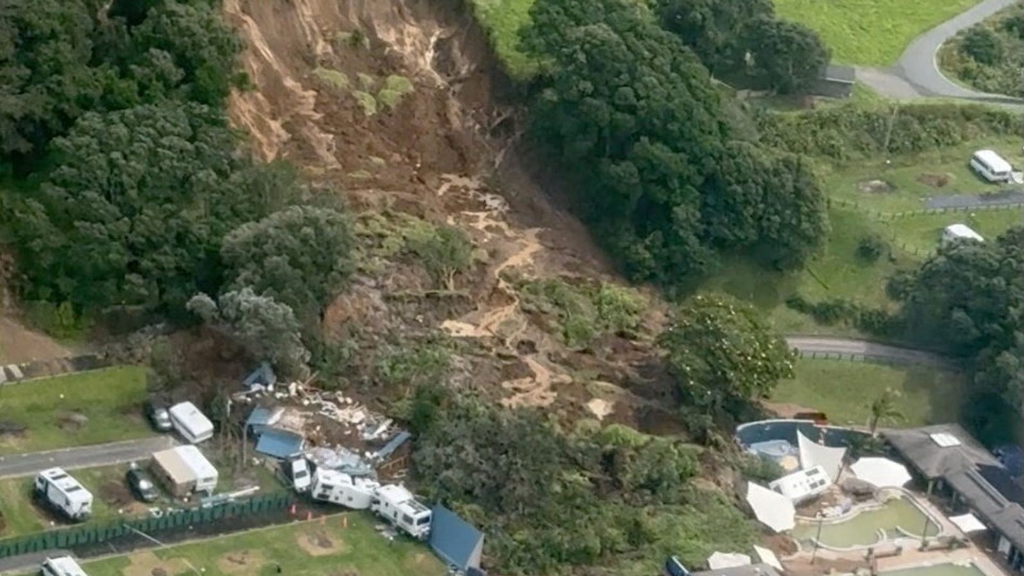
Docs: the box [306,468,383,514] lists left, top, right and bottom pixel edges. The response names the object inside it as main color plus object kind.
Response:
white camper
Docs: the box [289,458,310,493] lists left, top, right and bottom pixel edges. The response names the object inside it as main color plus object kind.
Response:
white car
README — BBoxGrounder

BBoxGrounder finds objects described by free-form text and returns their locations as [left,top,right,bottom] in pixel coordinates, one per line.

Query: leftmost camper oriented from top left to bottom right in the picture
[39,470,92,527]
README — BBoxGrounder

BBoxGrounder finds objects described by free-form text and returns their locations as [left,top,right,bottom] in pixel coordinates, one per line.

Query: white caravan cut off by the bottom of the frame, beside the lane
[44,552,88,576]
